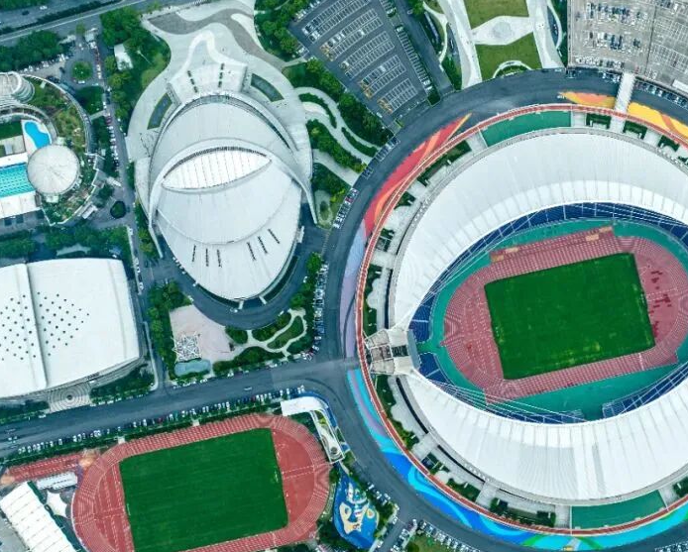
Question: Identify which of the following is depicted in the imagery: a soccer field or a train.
soccer field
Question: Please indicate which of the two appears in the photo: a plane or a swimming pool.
swimming pool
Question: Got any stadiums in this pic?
Yes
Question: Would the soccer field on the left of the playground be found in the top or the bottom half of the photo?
bottom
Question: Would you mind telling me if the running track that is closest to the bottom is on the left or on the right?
left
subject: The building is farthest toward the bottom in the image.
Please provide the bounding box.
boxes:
[37,470,79,489]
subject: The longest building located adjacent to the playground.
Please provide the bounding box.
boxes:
[280,389,350,463]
